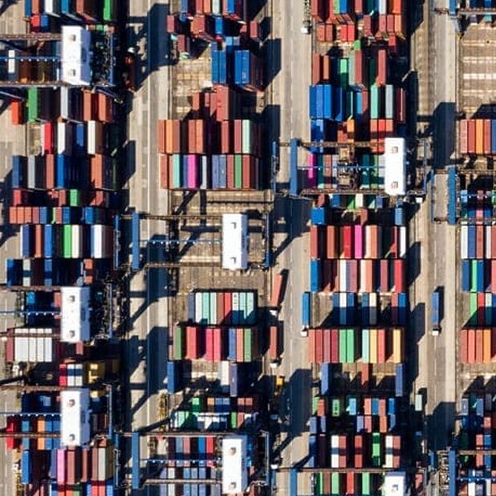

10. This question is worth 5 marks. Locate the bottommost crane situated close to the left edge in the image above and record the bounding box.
[0,371,129,448]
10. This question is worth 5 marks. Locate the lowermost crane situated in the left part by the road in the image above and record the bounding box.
[115,412,272,492]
